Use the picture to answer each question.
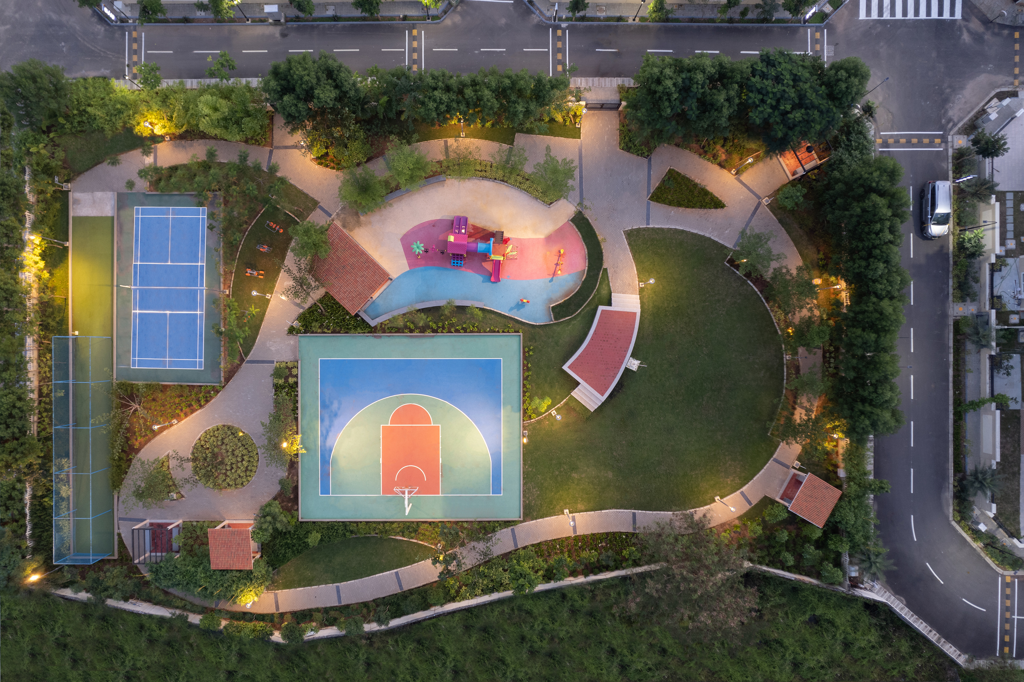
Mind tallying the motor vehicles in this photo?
1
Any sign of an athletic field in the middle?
No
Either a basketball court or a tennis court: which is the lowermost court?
basketball court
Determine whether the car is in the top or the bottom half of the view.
top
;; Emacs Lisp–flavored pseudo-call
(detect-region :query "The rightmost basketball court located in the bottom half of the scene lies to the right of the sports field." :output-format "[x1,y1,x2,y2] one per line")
[298,334,523,521]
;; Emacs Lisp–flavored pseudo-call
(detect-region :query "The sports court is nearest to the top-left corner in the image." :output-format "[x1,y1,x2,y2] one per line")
[118,192,225,385]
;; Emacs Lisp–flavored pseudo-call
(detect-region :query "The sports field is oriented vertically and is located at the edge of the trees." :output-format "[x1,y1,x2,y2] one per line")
[68,191,120,559]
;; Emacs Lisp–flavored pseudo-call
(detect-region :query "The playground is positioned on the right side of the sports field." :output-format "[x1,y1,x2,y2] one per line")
[332,177,585,322]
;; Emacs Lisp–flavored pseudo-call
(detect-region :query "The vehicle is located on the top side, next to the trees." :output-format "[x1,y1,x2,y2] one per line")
[921,180,955,240]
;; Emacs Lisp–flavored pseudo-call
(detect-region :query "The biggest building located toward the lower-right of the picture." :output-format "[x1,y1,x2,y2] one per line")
[774,467,842,529]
